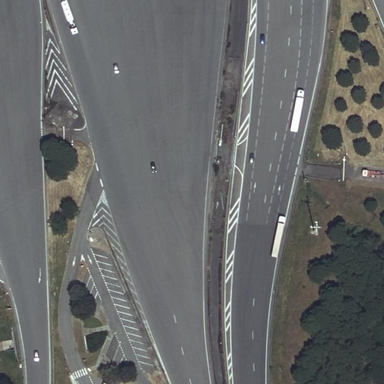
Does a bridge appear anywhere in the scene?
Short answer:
No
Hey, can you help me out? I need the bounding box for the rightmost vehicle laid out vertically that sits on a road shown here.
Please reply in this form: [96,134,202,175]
[292,88,306,132]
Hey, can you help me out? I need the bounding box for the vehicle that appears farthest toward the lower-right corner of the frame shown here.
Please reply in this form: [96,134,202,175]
[273,214,287,258]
